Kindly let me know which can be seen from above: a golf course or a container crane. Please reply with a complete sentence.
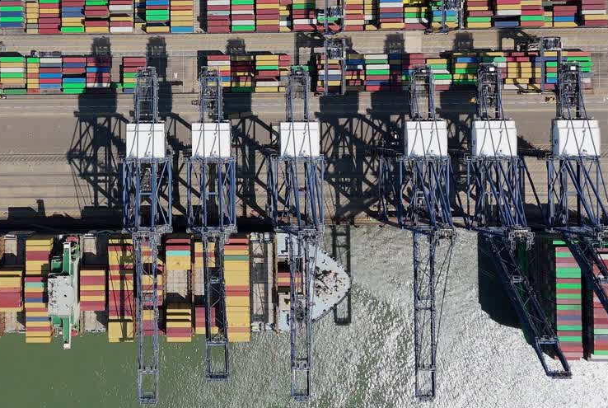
It is a container crane that can be seen here.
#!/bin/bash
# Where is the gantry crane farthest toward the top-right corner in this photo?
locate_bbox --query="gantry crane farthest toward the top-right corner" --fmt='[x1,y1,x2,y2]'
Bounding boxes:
[515,35,563,95]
